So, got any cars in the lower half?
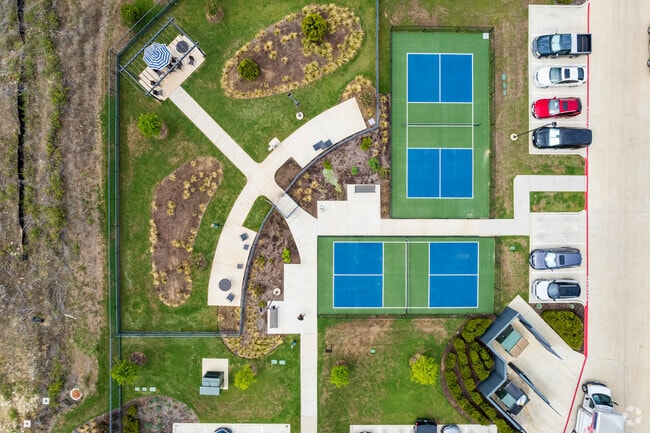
Yes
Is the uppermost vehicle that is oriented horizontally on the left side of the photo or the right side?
right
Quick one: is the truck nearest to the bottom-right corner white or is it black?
white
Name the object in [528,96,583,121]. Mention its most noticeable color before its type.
red car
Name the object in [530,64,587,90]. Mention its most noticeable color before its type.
white car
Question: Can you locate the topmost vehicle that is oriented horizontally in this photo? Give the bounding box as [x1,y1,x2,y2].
[529,30,592,58]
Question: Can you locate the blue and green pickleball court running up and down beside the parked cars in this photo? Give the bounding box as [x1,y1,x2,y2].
[392,31,490,218]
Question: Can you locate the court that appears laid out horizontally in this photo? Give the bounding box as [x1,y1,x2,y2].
[319,236,495,317]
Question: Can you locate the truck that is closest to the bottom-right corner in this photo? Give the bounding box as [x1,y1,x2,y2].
[576,378,625,433]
